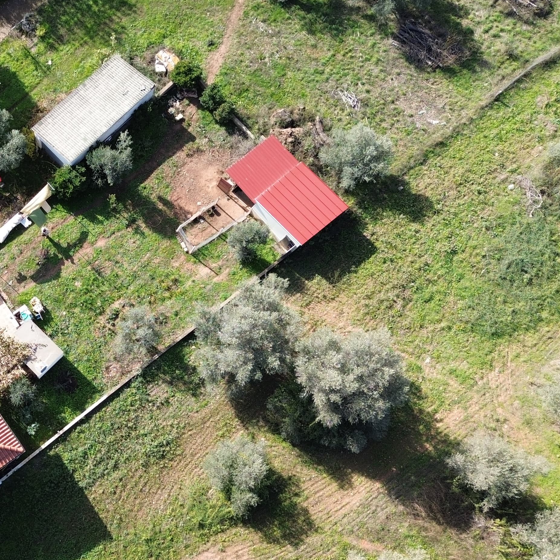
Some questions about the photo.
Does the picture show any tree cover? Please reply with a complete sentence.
Yes, the picture does contain tree cover.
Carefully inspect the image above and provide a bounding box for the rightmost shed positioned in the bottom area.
[15,321,63,379]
